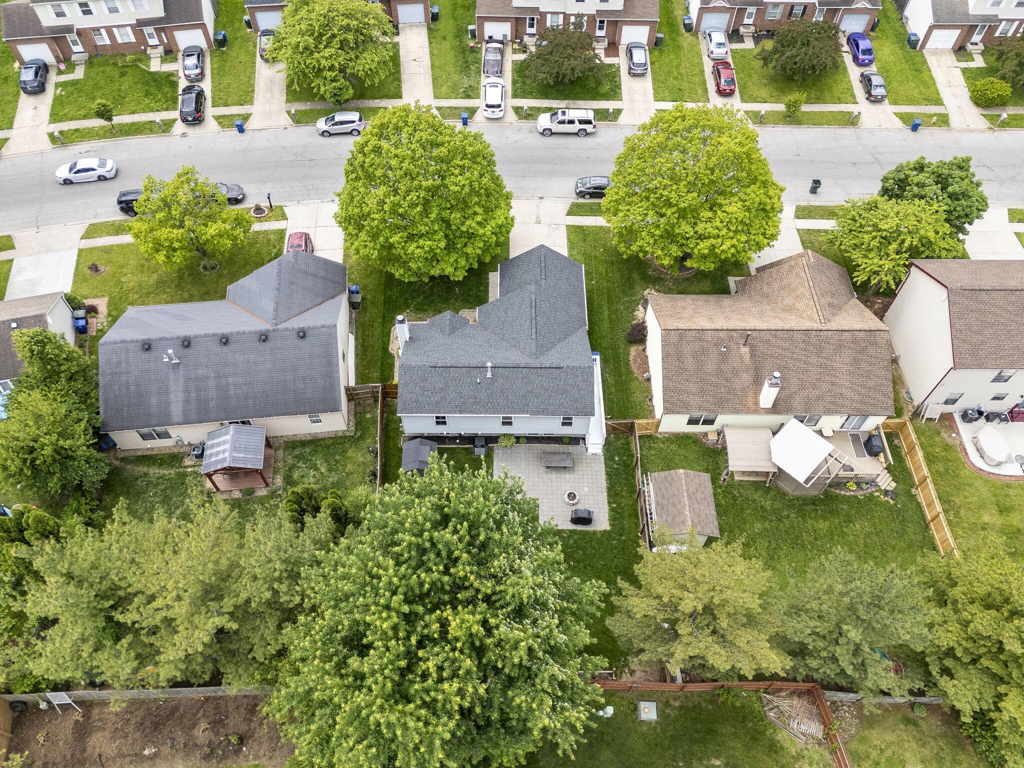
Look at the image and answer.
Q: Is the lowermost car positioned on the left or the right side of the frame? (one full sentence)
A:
You can find the lowermost car on the left side of the picture.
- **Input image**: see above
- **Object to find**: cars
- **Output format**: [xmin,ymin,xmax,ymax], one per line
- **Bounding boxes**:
[845,34,876,65]
[53,158,119,186]
[287,227,314,255]
[180,47,206,80]
[111,185,175,215]
[712,61,737,94]
[859,70,890,102]
[577,175,619,200]
[537,107,598,138]
[626,43,649,74]
[18,59,52,91]
[256,30,281,59]
[315,109,367,137]
[704,28,729,59]
[481,78,506,115]
[482,34,505,75]
[178,86,207,122]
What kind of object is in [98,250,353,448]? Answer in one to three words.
house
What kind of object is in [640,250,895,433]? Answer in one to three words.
house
